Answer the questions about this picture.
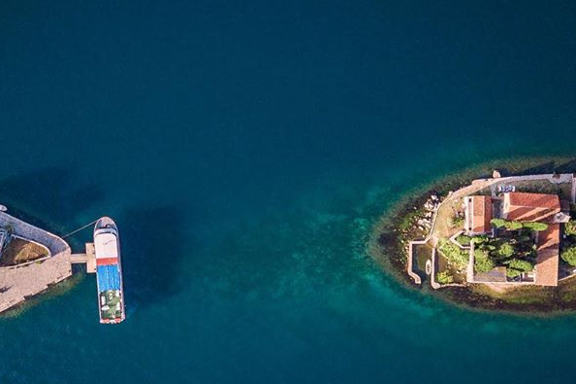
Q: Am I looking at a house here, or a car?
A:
house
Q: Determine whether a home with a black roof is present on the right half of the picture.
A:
No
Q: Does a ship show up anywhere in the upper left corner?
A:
No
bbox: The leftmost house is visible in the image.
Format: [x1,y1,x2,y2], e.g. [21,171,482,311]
[461,196,492,232]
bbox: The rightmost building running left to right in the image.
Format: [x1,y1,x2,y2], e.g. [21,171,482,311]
[502,193,571,225]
